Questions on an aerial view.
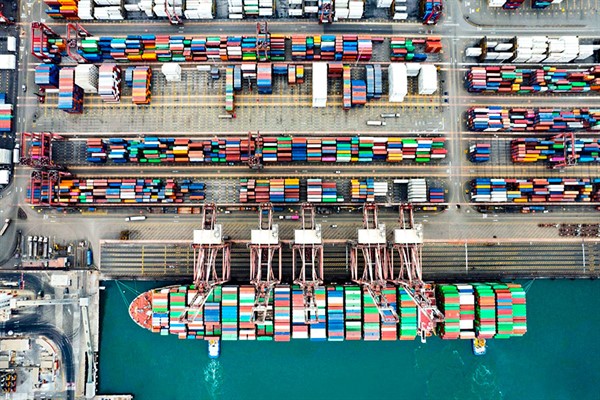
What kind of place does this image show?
port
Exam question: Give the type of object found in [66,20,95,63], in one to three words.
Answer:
crane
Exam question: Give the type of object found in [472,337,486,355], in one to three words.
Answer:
boat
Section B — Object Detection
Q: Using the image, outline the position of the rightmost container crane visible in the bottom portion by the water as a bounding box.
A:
[379,202,444,331]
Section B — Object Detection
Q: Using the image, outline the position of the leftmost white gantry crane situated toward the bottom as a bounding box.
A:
[180,202,242,331]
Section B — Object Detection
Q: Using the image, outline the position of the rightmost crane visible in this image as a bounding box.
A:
[545,129,577,168]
